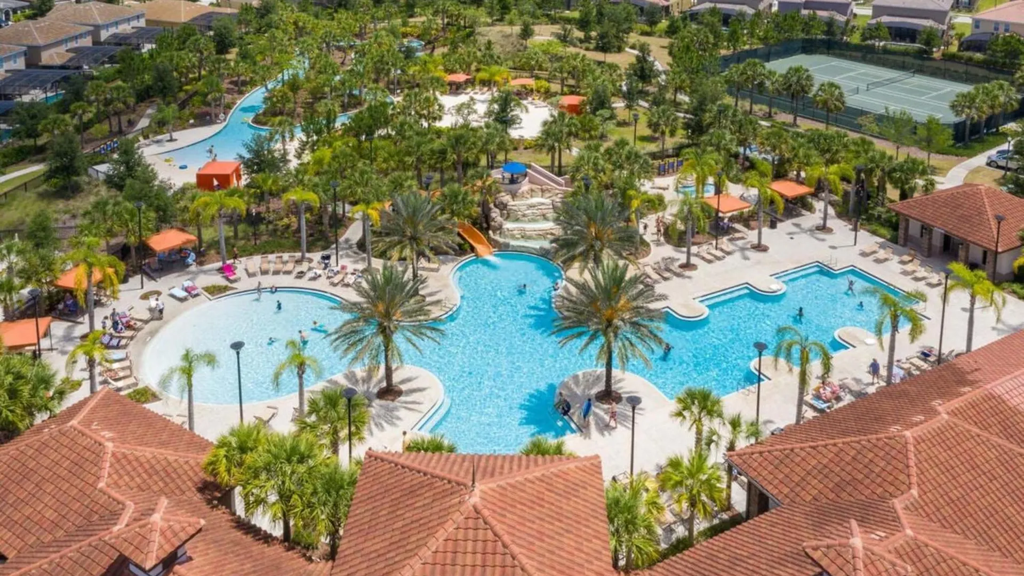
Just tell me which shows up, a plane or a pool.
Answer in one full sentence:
It is a pool that can be seen here.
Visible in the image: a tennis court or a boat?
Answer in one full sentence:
This aerial view contains a tennis court.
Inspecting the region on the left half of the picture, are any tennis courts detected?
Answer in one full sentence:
No, I can find no tennis court on the left half of the picture.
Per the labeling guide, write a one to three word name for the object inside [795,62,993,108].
tennis court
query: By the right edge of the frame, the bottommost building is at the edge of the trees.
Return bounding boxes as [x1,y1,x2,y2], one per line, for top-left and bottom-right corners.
[620,331,1024,576]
